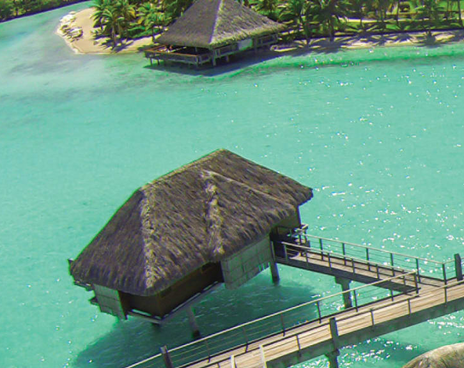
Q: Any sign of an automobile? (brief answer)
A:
No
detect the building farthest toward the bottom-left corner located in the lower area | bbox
[62,151,317,344]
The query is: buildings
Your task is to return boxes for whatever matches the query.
[62,151,317,344]
[140,0,290,80]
